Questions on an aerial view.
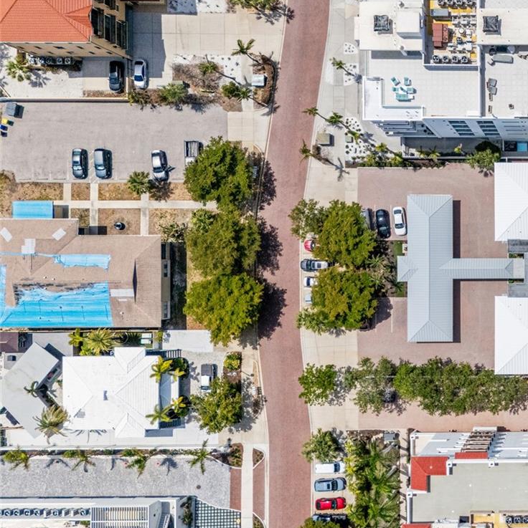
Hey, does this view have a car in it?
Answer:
Yes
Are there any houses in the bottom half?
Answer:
Yes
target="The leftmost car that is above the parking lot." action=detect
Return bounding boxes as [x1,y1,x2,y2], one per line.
[106,61,124,92]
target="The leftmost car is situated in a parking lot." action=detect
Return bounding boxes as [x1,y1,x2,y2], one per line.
[72,148,89,178]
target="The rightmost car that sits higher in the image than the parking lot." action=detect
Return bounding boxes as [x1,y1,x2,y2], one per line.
[132,58,149,90]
